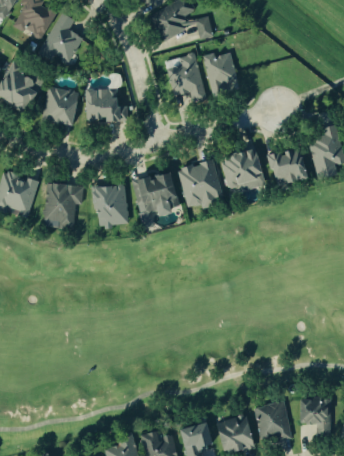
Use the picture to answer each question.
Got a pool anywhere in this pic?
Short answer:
Yes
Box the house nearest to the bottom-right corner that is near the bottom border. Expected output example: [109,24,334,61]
[301,398,332,434]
